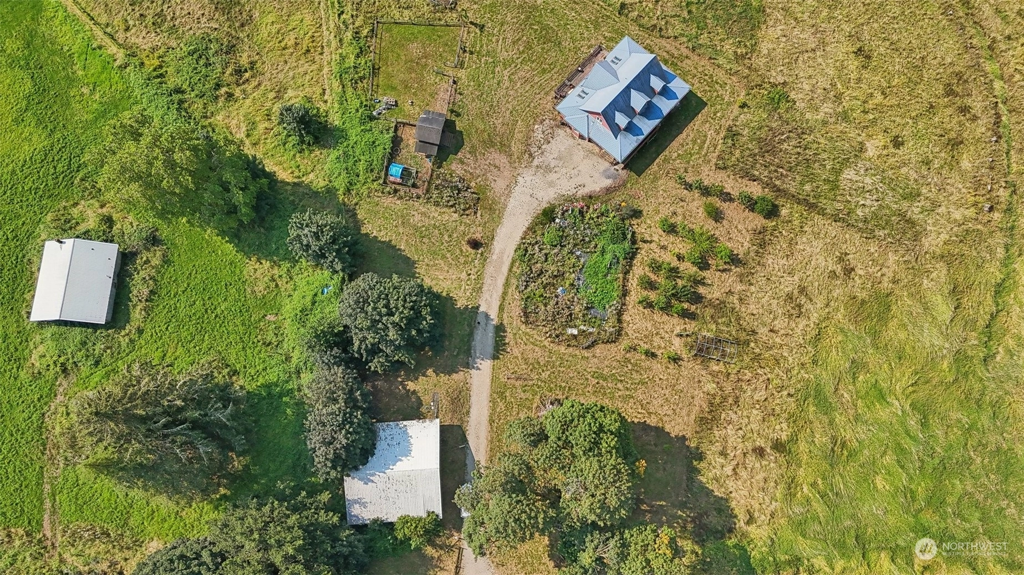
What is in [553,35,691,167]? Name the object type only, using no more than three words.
house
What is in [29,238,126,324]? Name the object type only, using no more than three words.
shed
